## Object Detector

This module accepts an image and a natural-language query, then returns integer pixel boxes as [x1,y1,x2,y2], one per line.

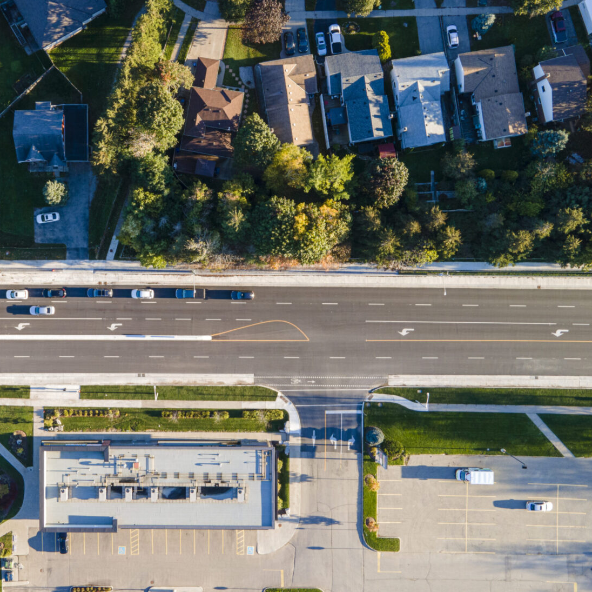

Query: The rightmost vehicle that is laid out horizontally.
[526,500,551,512]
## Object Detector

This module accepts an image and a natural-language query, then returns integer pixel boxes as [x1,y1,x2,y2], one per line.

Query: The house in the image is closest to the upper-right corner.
[527,51,592,121]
